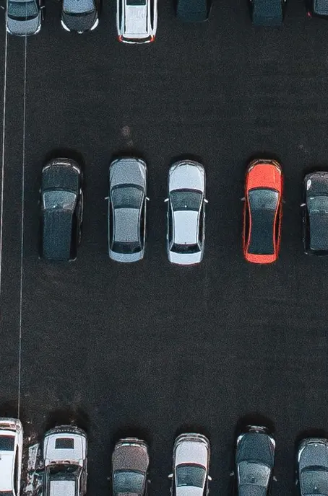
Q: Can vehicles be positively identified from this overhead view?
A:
Yes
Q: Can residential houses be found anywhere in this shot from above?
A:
No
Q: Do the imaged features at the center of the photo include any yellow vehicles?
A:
No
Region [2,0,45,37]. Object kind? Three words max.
car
